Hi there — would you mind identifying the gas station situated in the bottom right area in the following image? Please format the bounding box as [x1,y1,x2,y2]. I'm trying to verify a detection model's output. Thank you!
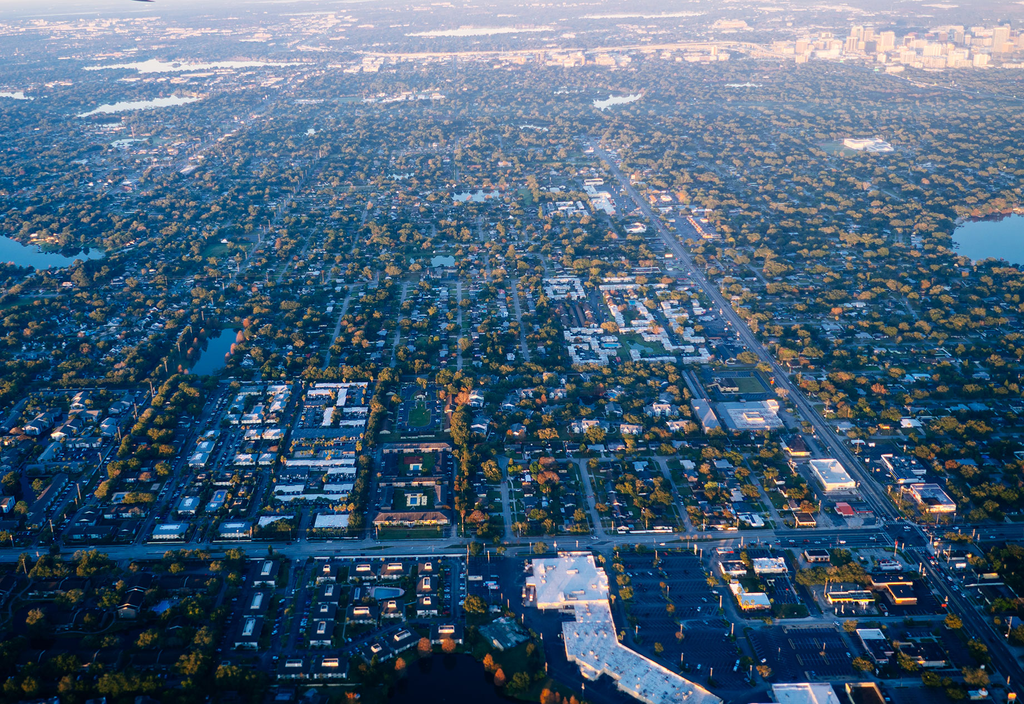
[828,590,875,608]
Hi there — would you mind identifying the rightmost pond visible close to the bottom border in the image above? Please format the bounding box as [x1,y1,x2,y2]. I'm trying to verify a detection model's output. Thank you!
[390,654,504,704]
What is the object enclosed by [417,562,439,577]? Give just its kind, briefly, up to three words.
building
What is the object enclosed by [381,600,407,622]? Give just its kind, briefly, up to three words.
building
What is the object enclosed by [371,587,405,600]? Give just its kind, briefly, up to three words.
swimming pool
